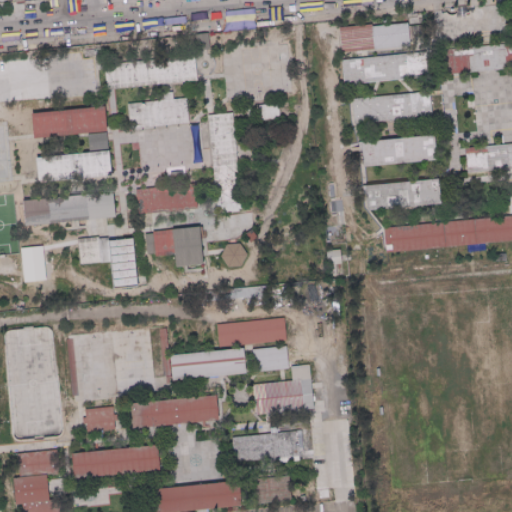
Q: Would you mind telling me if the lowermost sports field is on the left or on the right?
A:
right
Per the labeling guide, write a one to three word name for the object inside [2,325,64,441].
sports court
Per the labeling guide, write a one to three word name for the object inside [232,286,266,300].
shed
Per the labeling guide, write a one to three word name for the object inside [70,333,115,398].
sports court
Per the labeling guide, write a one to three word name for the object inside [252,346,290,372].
building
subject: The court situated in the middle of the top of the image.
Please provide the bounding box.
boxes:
[224,44,297,102]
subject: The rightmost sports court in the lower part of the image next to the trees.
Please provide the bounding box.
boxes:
[174,425,224,484]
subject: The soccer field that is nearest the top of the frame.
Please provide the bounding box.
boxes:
[0,194,22,253]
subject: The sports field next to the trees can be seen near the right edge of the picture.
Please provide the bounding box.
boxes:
[384,288,512,486]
